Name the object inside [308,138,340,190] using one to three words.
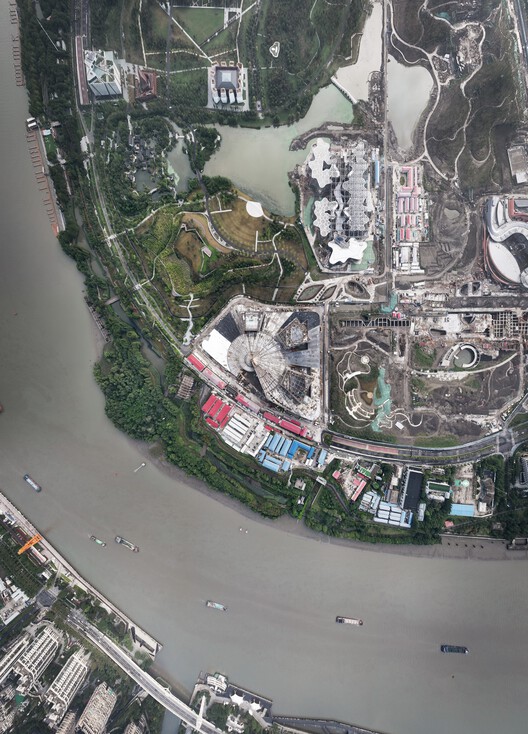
greenhouse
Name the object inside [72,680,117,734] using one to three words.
building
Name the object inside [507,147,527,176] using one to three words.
building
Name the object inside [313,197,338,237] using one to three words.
greenhouse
